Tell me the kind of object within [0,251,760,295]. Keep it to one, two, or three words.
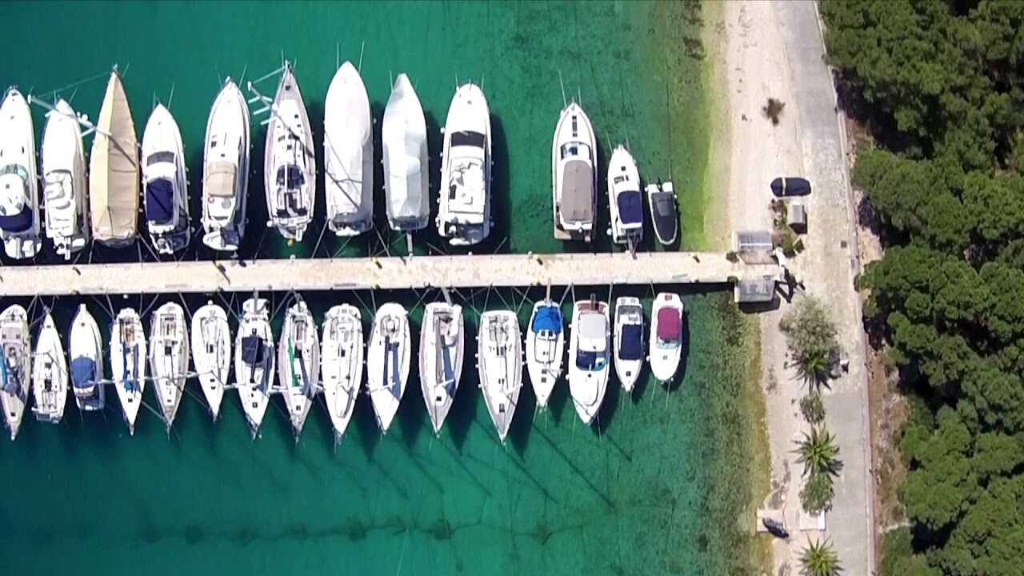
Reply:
pier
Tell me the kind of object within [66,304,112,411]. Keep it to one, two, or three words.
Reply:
boat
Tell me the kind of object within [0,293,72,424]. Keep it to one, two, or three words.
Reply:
boat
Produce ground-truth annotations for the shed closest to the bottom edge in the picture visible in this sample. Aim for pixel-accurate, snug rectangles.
[726,278,774,304]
